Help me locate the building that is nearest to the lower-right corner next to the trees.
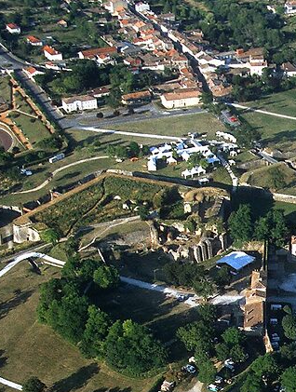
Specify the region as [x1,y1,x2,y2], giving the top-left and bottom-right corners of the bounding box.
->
[237,270,269,354]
